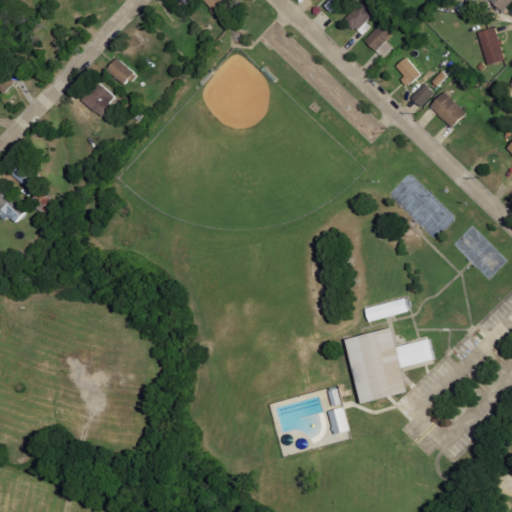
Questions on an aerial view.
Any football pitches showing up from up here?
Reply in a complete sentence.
No, the scene contains no football pitch.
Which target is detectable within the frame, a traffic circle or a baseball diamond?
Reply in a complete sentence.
Looking from above, you can make out a baseball diamond.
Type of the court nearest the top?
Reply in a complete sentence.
The court nearest the top appears to be a basketball court.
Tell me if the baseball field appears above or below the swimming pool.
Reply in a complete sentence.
Looking at the photo, you'll find the baseball field above the swimming pool.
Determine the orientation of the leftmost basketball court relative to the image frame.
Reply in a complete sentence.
In this picture, the leftmost basketball court lies on a diagonal.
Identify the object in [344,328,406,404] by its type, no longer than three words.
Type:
building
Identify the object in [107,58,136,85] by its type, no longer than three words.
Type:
house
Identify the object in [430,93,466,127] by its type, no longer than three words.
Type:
house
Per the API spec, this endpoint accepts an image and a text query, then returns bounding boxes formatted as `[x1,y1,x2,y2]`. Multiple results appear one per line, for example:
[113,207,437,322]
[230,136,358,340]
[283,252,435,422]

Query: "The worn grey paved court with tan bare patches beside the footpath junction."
[454,226,508,279]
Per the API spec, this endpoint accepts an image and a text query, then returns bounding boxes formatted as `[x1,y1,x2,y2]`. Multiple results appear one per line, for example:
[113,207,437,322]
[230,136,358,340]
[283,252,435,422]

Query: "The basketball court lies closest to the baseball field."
[392,176,452,237]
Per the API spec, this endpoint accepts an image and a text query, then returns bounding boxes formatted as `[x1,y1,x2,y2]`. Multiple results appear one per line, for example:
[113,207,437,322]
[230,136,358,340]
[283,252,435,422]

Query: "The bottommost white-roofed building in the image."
[328,407,350,434]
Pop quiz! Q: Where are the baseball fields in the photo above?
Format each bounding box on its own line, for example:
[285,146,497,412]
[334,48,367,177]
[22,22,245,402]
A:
[118,49,364,230]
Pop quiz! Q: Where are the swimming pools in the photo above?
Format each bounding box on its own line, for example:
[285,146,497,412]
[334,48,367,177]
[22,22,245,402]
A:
[270,386,351,457]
